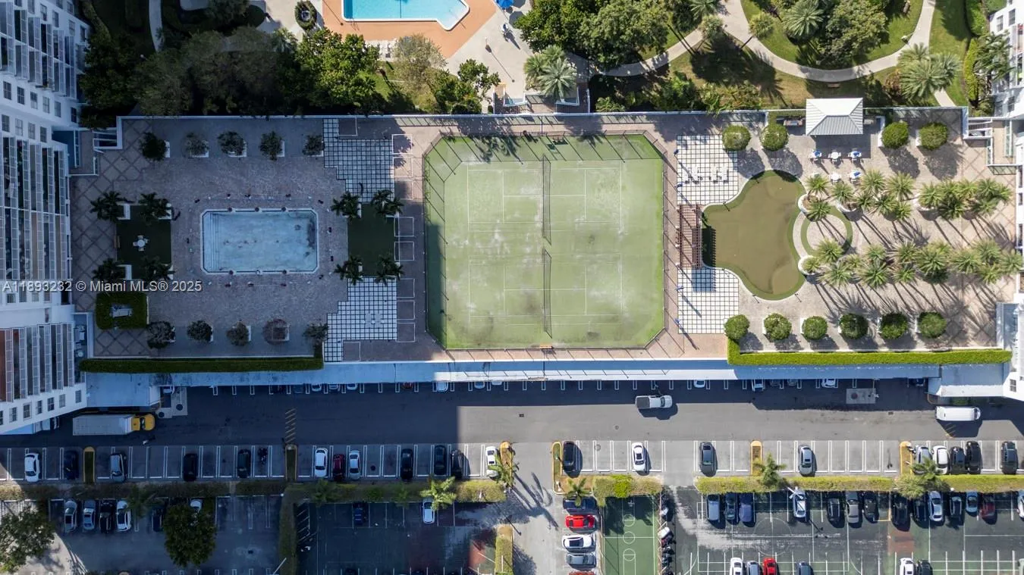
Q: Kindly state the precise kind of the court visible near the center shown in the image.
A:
tennis court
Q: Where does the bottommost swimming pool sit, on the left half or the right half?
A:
left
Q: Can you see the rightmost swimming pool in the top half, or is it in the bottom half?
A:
top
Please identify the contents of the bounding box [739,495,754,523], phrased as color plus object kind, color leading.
blue car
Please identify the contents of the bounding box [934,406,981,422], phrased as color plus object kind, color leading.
white vehicle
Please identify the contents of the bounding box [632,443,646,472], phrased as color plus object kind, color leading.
white car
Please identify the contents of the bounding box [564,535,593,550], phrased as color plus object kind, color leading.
white car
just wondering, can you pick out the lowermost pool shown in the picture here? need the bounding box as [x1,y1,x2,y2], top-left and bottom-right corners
[200,209,318,274]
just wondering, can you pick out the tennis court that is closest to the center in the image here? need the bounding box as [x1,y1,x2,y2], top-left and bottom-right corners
[426,135,665,349]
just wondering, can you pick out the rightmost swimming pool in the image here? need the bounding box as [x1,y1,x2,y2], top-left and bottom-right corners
[322,0,497,58]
